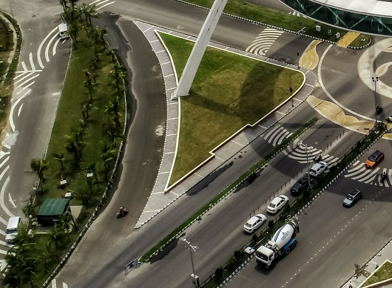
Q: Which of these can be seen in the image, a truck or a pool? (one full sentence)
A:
There is a truck in the scene.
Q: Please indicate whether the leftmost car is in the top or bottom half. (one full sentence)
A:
You can find the leftmost car in the bottom half.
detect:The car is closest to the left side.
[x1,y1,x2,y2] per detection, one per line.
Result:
[2,209,23,238]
